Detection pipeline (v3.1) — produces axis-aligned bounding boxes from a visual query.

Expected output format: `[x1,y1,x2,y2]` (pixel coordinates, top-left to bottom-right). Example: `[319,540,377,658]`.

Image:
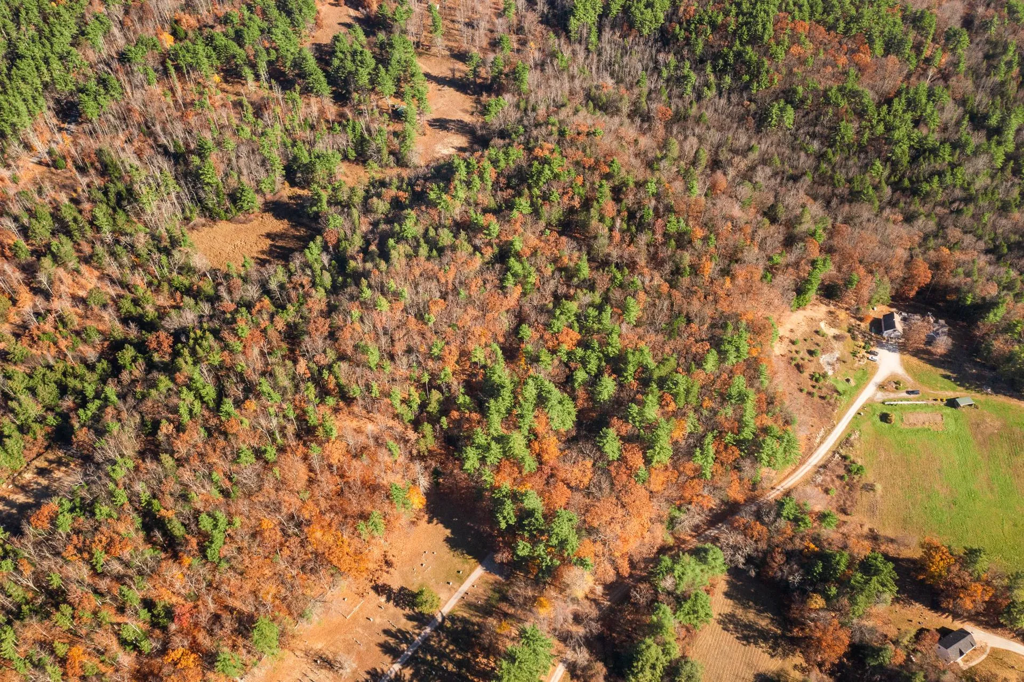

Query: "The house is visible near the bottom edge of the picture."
[933,625,977,665]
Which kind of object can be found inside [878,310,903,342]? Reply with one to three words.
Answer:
barn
